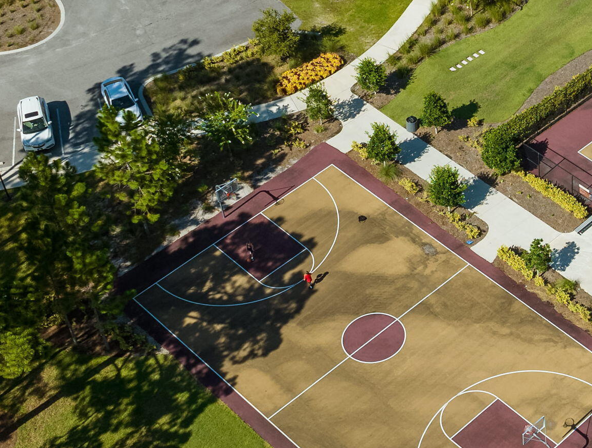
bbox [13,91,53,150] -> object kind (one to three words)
car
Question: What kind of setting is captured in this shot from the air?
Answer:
sports ground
